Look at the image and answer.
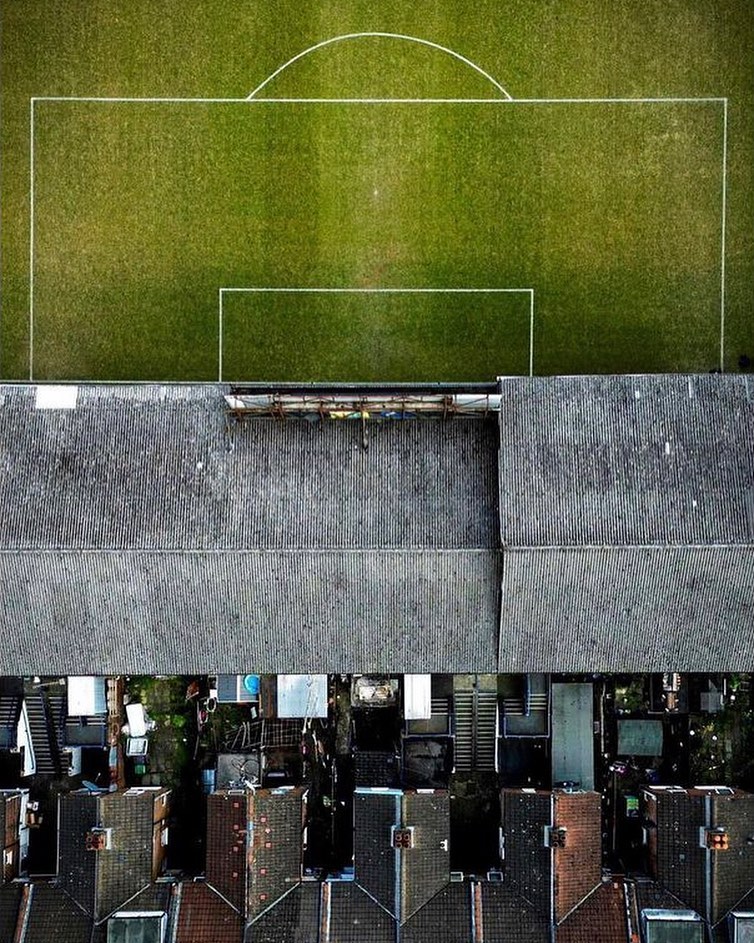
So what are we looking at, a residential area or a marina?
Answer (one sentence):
The picture captures a residential area.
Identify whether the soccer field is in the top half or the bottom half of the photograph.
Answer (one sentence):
You can find the soccer field in the top half.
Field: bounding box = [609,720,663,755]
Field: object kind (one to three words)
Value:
shed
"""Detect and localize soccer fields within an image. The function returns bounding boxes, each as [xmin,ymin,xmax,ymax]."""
[0,0,754,390]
